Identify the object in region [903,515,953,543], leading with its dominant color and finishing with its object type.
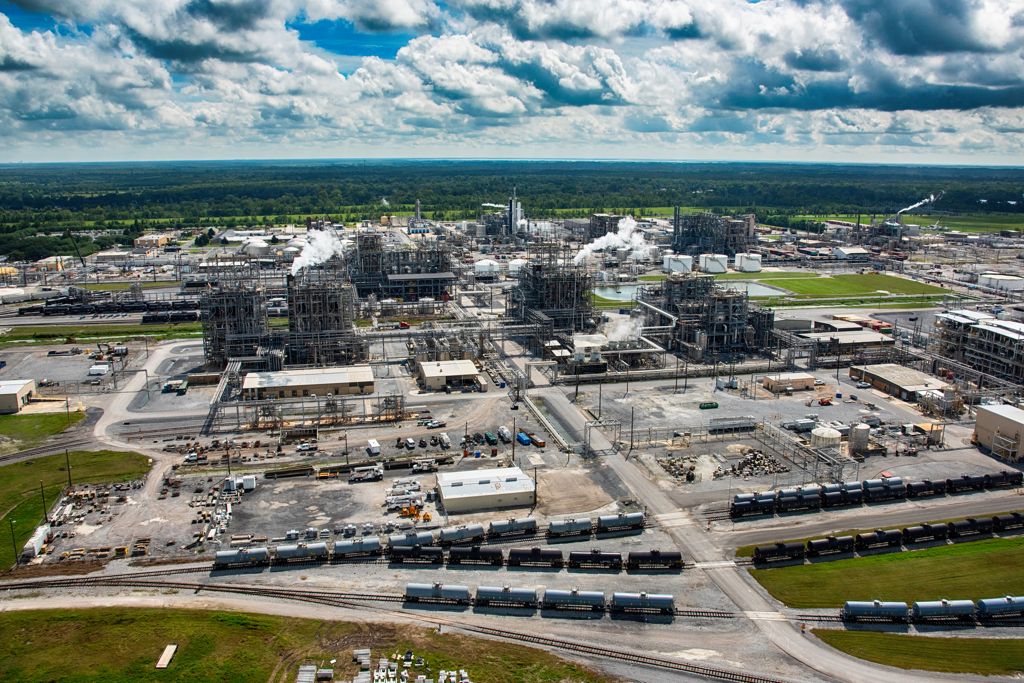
black rail car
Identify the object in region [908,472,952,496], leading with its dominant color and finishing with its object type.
black rail car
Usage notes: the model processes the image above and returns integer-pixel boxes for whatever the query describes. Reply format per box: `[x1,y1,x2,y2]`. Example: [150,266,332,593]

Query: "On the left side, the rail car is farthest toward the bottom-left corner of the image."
[207,540,271,568]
